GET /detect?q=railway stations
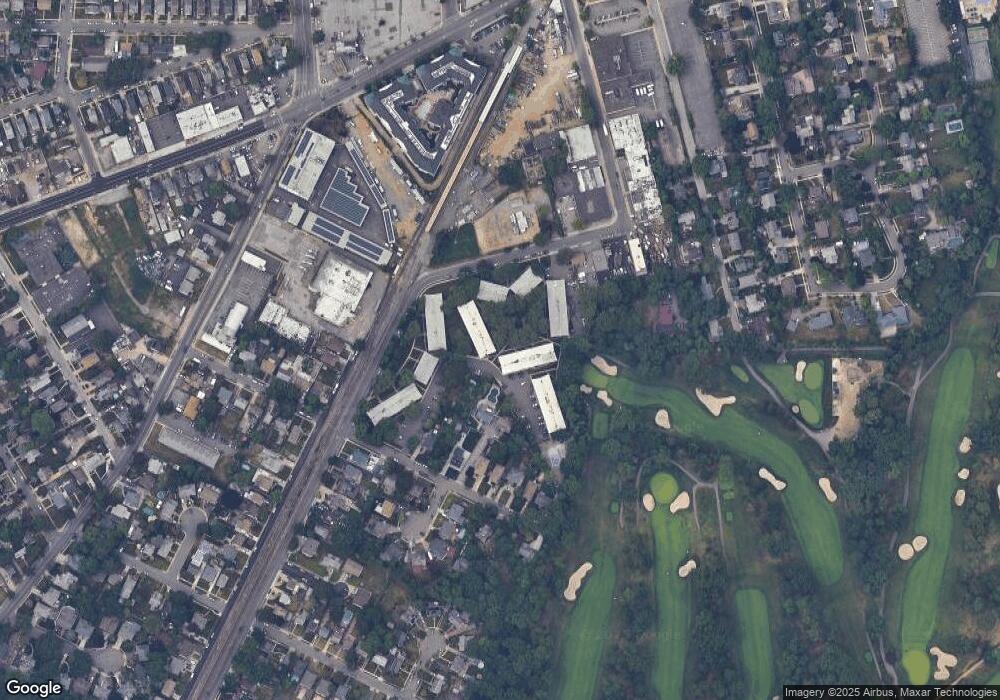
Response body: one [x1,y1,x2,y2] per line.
[425,45,521,232]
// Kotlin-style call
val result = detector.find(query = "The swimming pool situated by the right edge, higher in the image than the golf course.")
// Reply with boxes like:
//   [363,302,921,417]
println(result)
[946,121,964,134]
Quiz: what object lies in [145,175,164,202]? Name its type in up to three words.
house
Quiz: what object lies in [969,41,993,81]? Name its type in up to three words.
tennis court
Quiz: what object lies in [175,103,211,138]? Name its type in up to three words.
building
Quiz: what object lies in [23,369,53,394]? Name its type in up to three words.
house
